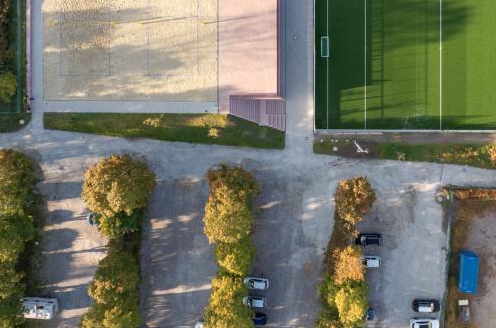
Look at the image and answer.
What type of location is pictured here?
sports ground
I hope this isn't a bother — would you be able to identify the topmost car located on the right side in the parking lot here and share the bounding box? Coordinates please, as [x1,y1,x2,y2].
[354,231,383,246]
